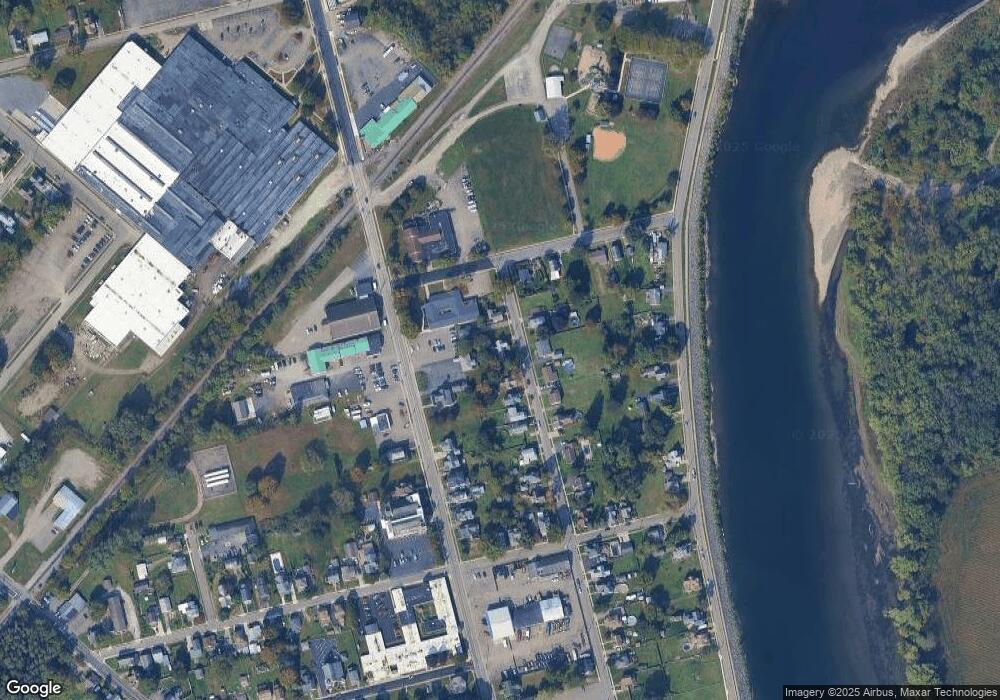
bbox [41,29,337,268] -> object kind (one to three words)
warehouse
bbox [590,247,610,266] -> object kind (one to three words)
house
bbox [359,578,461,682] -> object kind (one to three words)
building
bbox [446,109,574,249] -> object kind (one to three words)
sports field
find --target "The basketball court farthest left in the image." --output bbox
[545,26,573,58]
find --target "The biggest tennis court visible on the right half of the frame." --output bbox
[625,59,667,103]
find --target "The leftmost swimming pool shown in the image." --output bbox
[271,552,284,573]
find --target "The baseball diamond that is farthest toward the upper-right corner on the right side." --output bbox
[591,124,627,161]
